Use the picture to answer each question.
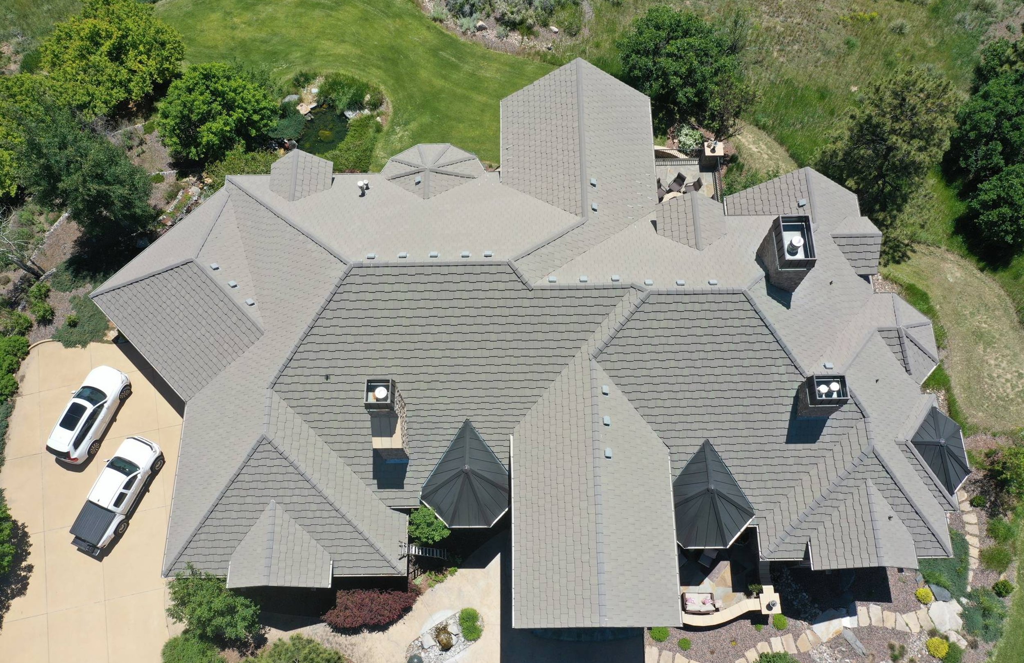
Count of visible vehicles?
2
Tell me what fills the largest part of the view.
buildings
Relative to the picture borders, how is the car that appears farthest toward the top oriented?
at an angle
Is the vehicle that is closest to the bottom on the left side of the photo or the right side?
left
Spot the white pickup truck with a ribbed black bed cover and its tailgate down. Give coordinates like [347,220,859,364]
[69,433,166,555]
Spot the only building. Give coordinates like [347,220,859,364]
[87,56,974,628]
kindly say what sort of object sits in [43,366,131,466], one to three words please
car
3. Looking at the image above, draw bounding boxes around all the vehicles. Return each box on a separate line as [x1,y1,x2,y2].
[43,366,131,466]
[69,433,166,555]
